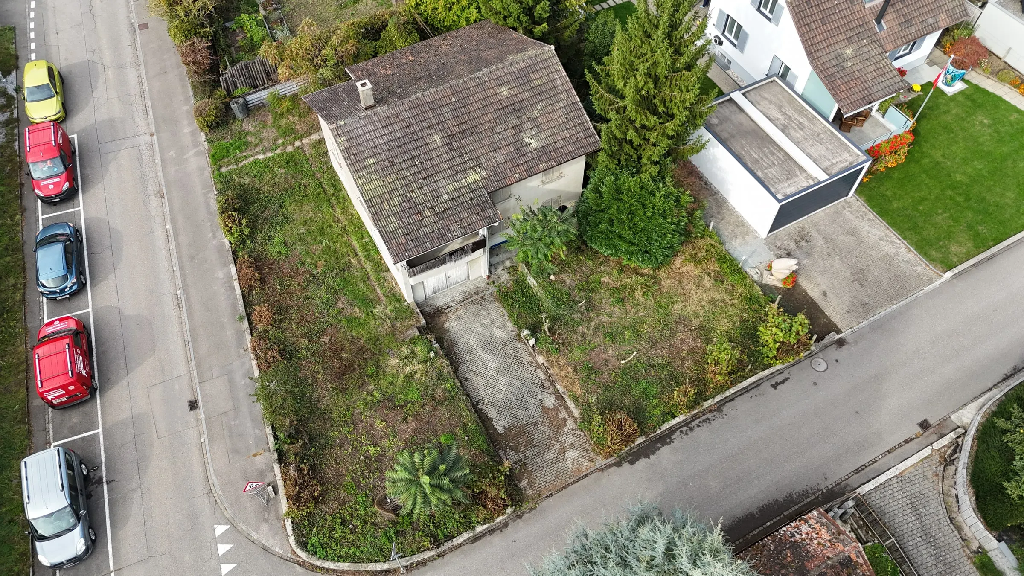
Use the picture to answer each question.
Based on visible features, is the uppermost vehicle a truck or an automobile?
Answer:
automobile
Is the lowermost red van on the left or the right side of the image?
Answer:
left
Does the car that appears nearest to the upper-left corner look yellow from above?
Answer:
Yes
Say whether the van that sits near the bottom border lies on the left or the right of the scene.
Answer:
left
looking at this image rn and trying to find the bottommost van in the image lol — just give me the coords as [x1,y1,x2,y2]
[20,451,95,571]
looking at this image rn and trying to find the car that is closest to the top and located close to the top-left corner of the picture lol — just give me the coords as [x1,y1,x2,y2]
[13,60,66,125]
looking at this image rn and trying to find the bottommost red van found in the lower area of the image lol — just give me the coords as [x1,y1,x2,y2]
[22,317,95,421]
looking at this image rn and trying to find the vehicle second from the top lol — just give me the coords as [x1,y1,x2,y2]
[18,118,78,207]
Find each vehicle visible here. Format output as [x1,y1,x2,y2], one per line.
[22,317,95,421]
[20,451,95,571]
[13,60,66,125]
[18,118,78,207]
[24,222,86,308]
